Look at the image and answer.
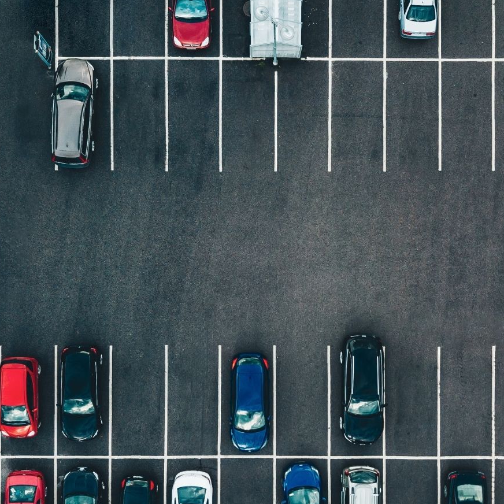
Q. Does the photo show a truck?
No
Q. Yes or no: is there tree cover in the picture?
No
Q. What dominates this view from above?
paved ground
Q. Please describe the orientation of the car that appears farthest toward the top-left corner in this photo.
from top to bottom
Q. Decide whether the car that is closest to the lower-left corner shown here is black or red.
red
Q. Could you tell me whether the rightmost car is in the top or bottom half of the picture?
bottom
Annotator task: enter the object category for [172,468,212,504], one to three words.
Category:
car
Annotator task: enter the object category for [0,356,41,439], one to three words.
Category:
car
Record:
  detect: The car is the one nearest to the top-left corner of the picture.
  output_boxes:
[46,58,97,169]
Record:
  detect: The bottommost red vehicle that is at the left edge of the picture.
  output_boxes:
[3,467,48,504]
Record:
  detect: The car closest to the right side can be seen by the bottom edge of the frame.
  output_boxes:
[446,468,490,504]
